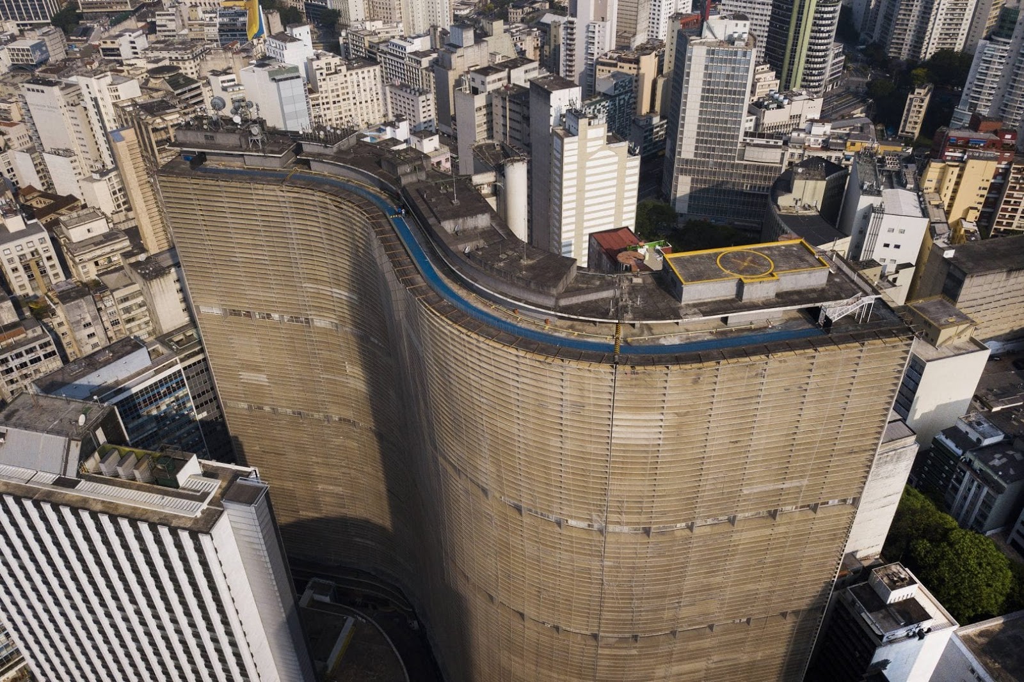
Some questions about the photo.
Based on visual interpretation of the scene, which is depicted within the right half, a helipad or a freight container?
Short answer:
helipad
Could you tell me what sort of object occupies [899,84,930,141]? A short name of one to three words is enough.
building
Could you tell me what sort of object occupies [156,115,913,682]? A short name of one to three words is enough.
building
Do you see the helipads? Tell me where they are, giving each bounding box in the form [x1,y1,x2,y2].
[662,237,829,299]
